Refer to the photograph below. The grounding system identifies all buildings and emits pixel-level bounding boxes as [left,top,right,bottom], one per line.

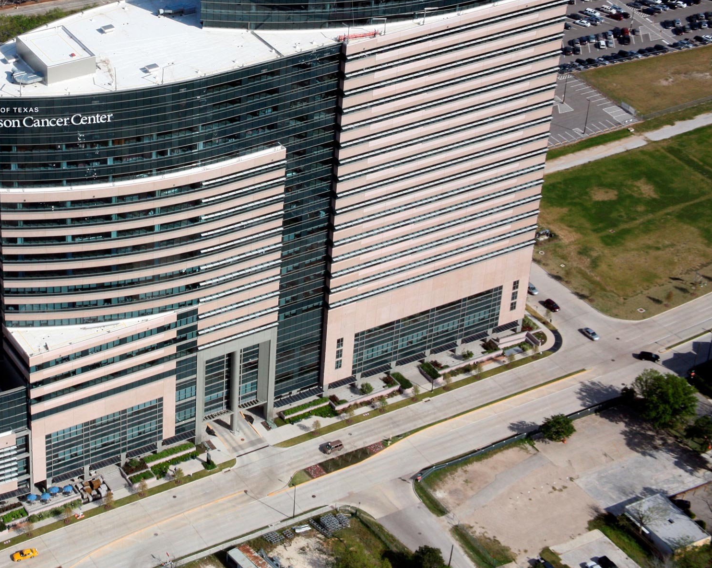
[227,545,274,568]
[624,494,712,566]
[0,0,569,488]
